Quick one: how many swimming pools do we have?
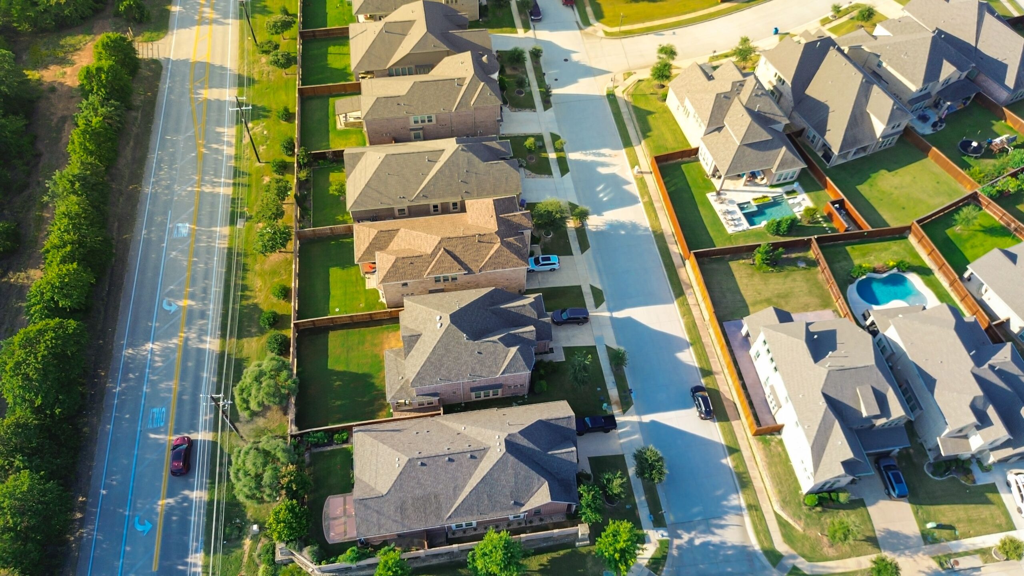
2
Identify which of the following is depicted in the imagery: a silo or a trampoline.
trampoline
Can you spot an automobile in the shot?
Yes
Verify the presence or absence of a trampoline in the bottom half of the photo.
No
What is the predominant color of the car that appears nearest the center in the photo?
blue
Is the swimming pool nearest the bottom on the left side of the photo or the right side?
right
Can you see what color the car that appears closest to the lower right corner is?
white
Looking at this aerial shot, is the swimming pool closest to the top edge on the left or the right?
right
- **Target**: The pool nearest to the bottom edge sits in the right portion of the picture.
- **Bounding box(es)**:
[848,268,943,326]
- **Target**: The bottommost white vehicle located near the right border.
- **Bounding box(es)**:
[999,471,1024,513]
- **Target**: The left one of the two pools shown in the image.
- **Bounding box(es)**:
[707,181,809,233]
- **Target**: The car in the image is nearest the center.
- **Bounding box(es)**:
[528,254,563,274]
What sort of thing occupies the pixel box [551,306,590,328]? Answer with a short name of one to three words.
car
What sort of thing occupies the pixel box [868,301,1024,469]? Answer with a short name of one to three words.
house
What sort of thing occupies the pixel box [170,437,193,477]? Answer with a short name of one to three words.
car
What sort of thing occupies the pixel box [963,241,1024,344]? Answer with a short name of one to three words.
house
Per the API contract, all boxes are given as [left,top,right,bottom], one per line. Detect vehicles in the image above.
[551,306,590,328]
[528,254,563,274]
[577,413,621,438]
[170,437,193,477]
[876,458,911,499]
[527,0,543,20]
[999,471,1024,513]
[690,386,716,423]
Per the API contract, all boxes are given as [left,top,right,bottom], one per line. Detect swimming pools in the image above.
[848,268,943,326]
[707,181,809,233]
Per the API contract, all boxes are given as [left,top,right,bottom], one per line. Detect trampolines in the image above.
[958,130,990,157]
